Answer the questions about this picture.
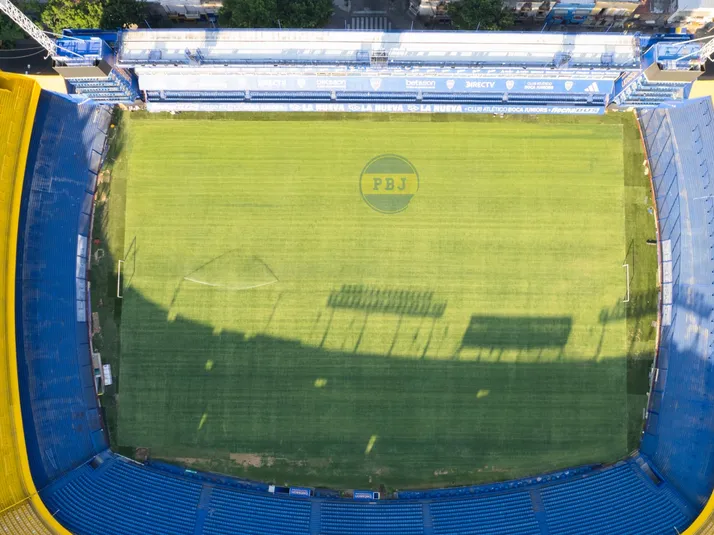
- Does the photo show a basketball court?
No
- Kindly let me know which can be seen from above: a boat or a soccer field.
soccer field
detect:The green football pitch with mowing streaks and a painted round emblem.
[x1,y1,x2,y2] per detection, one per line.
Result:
[91,105,658,488]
